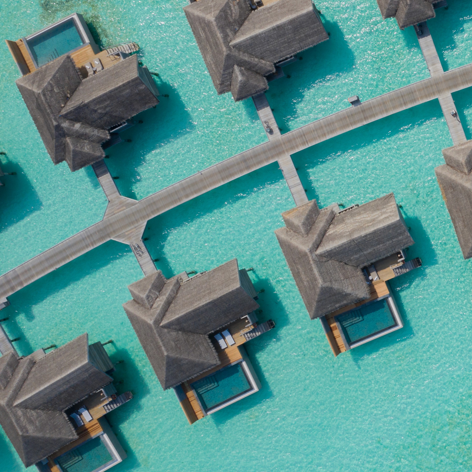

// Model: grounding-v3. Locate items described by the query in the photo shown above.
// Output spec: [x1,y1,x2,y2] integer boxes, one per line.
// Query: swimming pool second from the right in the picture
[190,344,262,417]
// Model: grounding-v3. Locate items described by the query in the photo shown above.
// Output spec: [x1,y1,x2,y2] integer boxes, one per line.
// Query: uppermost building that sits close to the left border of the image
[4,39,167,175]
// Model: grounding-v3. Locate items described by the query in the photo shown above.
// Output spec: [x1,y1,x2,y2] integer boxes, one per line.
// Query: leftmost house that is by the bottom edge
[0,329,137,472]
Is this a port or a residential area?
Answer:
residential area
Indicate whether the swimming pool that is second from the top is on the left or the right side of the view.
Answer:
right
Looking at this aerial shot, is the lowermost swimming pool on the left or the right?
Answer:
left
